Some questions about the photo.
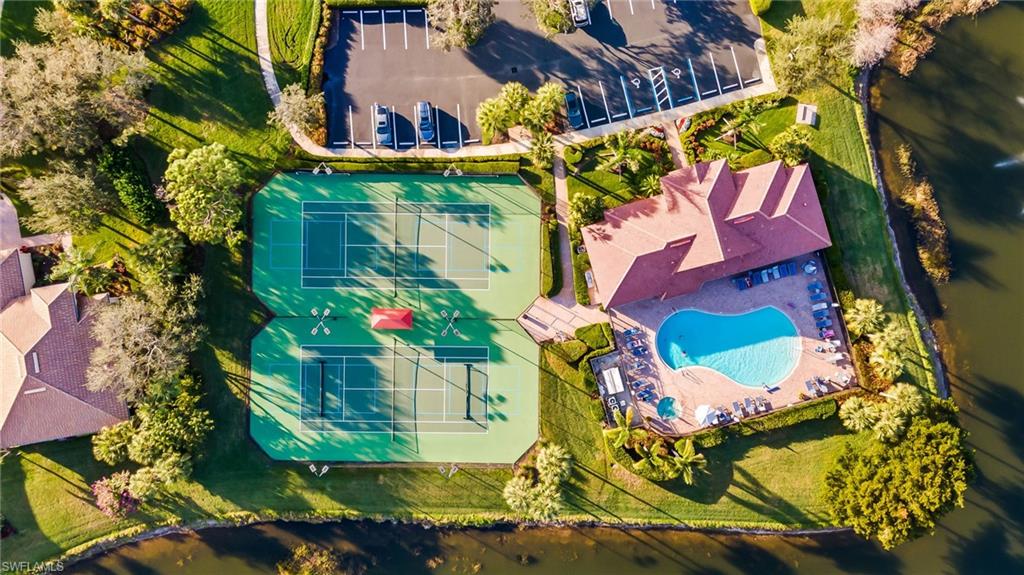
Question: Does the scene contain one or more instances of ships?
No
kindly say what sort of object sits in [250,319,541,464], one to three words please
tennis court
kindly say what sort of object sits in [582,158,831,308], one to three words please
building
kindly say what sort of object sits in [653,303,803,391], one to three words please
swimming pool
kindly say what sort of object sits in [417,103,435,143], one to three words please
car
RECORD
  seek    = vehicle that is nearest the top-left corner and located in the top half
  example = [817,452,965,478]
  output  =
[374,105,391,145]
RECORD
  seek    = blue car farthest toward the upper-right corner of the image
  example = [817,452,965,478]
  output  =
[563,89,584,129]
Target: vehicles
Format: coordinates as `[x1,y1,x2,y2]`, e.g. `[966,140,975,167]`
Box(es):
[417,103,435,143]
[374,105,391,145]
[563,89,584,129]
[570,0,589,27]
